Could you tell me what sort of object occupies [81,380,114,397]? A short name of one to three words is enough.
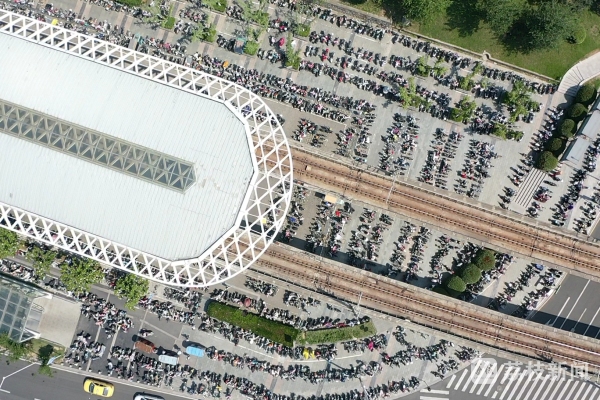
car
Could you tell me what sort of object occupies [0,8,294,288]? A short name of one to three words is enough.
train station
